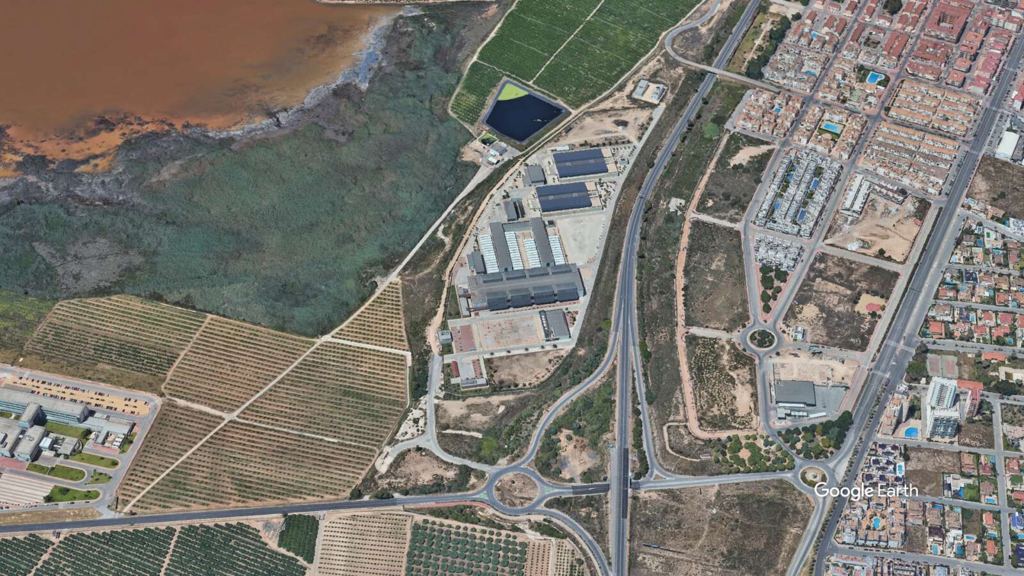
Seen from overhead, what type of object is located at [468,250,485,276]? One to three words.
building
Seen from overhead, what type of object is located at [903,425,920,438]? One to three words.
swimming pool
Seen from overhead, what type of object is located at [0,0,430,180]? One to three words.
pond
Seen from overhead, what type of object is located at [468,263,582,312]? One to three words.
building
